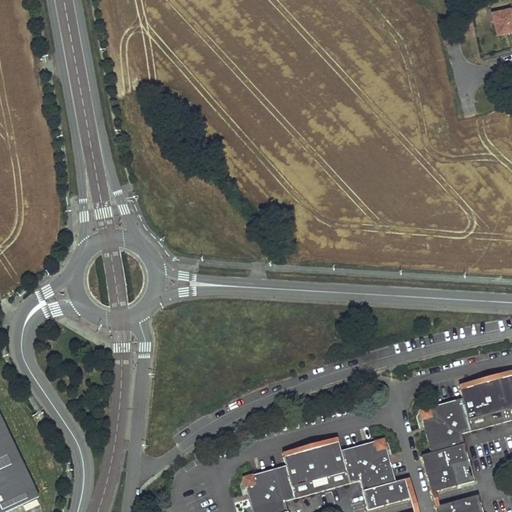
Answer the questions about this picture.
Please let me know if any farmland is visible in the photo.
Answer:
Yes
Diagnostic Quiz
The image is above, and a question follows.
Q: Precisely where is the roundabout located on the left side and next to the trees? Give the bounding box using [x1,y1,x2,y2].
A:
[38,202,206,343]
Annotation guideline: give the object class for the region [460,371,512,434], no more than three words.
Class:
building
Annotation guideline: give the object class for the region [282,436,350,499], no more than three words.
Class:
building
